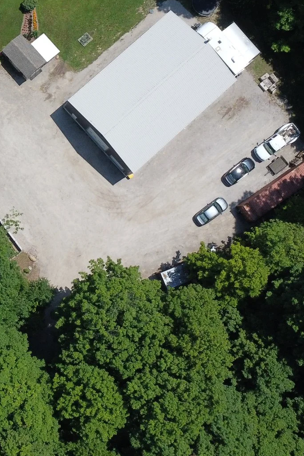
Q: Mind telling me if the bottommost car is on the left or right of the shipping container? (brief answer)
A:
to the left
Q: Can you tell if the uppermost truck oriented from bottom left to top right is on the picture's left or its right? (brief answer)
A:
right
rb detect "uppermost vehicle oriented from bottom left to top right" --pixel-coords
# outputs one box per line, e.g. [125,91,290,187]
[250,122,302,165]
